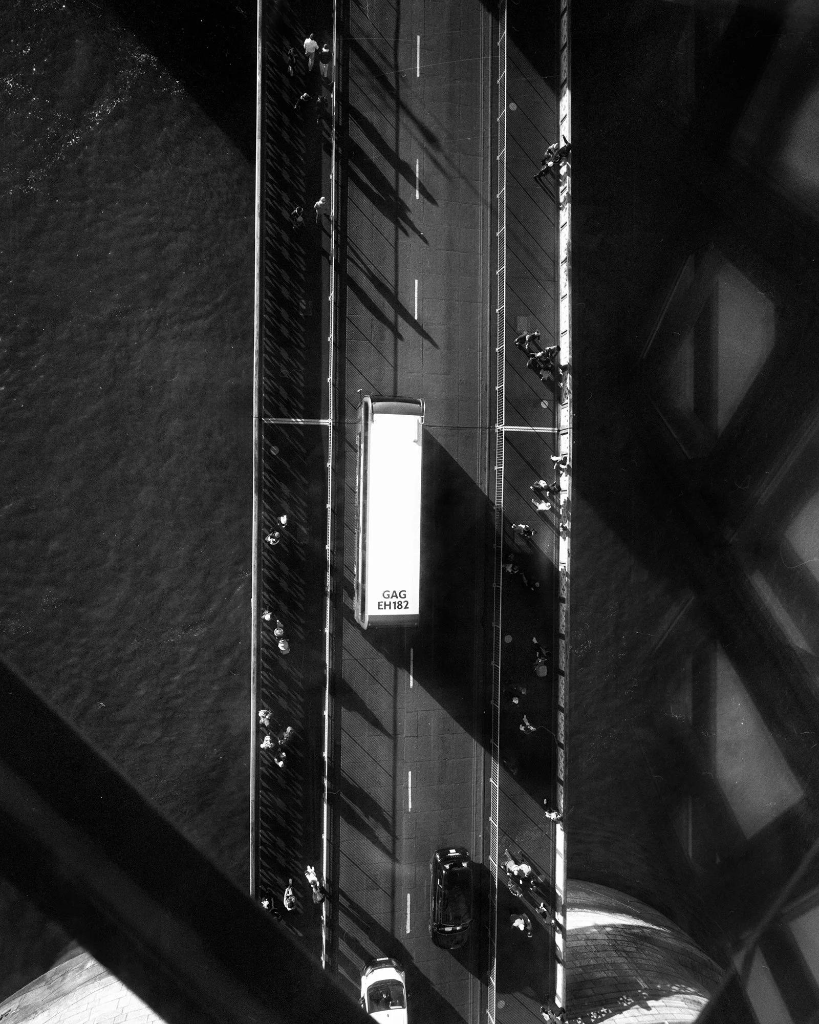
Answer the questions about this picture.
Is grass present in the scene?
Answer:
No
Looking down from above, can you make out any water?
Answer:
Yes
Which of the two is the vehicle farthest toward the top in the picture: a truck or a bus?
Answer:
bus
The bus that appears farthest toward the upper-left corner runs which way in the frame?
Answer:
up and down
